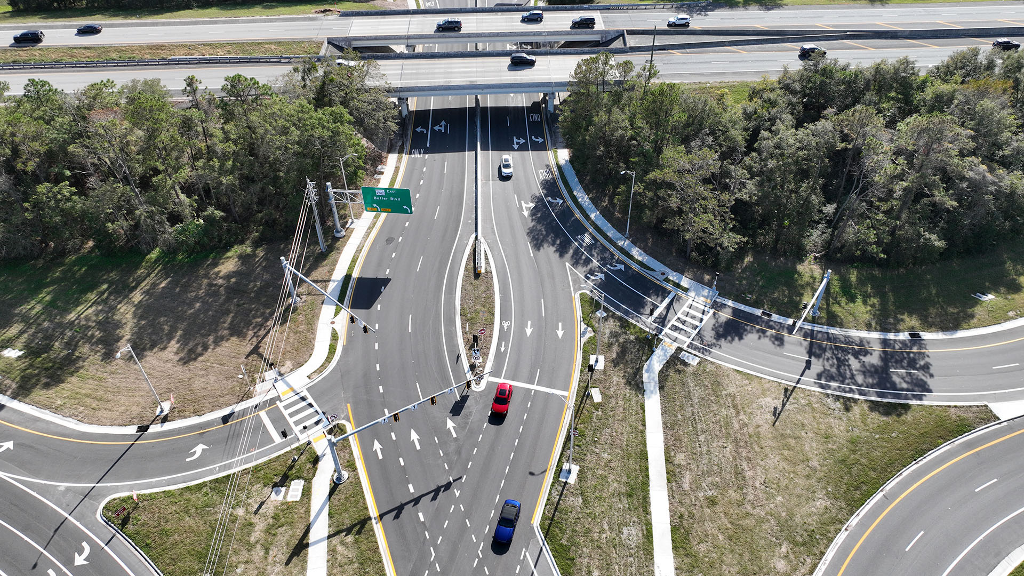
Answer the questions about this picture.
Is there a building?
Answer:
No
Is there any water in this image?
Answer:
No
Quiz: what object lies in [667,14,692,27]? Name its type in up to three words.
vehicle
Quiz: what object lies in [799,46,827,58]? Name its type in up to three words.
vehicle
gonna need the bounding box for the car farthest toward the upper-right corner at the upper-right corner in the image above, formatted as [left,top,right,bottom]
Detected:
[993,37,1022,51]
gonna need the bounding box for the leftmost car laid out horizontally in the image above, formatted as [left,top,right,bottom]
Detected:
[13,30,42,44]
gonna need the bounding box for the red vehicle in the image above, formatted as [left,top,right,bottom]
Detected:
[491,386,511,420]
